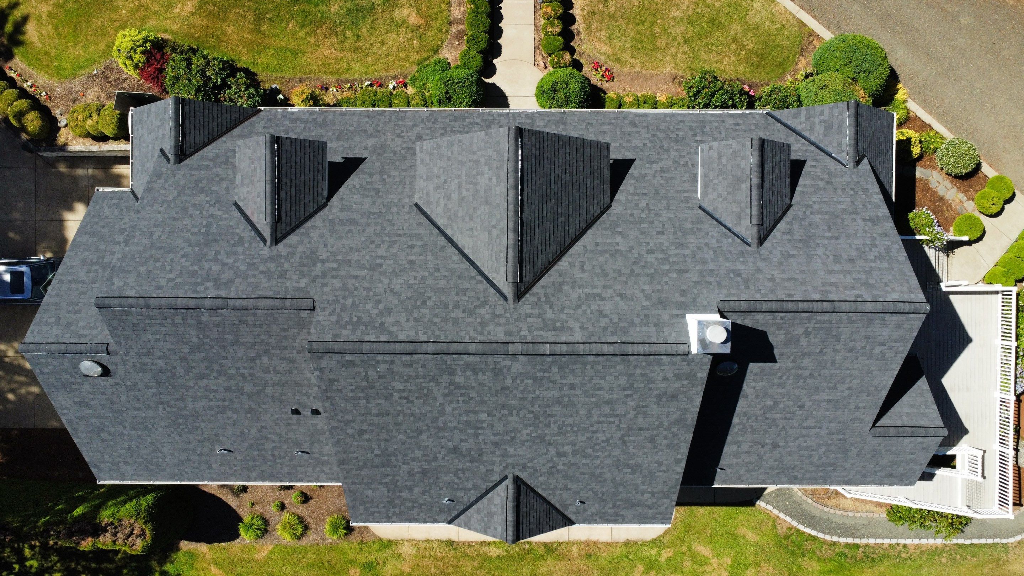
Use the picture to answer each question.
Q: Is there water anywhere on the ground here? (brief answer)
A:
No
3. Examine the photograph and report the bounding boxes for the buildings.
[16,93,951,545]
